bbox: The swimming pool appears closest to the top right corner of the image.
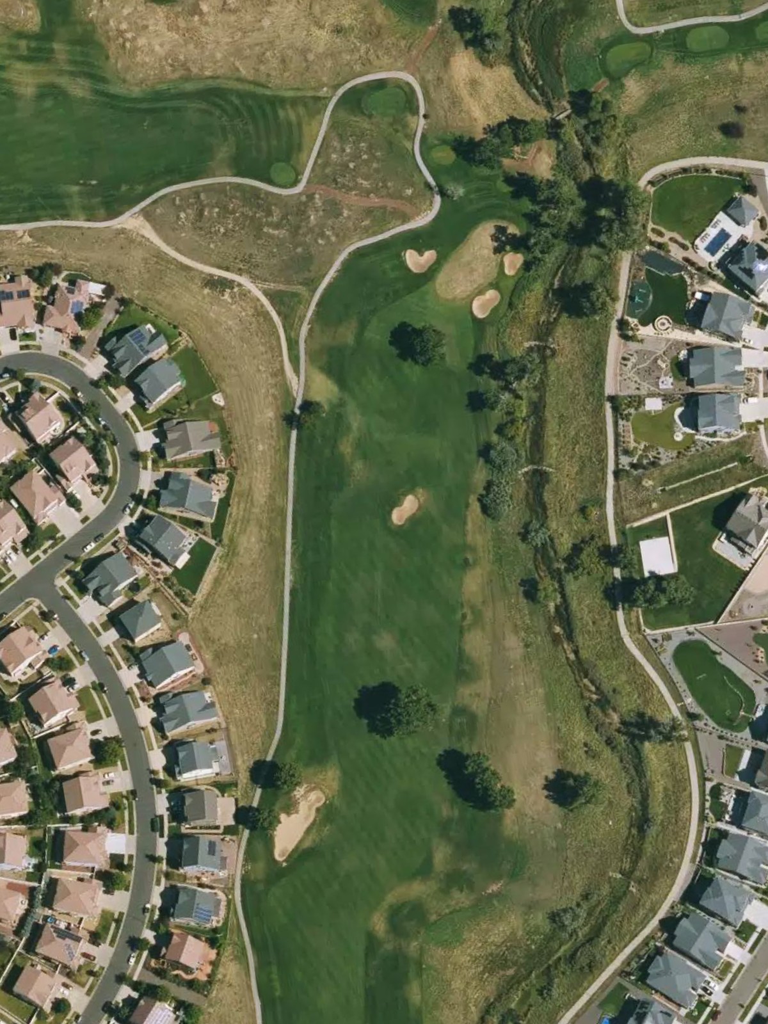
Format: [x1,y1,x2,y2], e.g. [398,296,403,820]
[703,228,733,257]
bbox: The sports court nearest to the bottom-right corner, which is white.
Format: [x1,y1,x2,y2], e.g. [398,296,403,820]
[640,537,674,577]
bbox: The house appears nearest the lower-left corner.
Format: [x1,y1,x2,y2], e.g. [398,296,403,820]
[12,965,57,1009]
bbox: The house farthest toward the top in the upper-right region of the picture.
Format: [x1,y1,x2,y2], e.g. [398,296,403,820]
[725,196,758,230]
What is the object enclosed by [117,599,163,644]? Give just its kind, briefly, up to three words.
house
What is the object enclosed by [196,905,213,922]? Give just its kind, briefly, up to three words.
solar panel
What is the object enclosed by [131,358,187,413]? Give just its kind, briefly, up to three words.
house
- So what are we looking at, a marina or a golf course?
golf course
